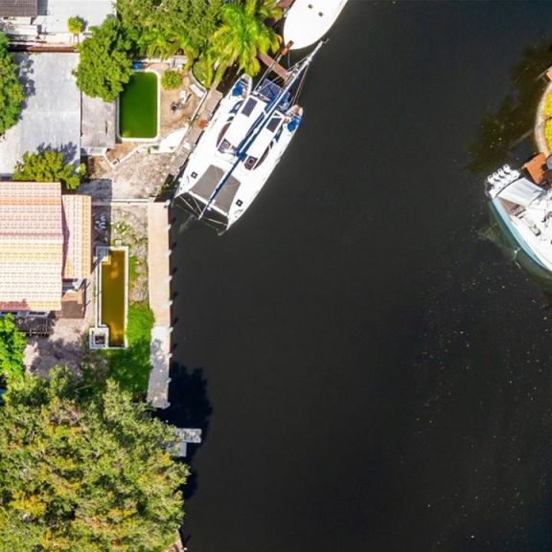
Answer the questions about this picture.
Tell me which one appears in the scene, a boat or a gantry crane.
boat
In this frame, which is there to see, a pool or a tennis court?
pool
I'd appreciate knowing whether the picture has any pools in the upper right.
No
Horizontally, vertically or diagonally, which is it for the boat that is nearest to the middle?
diagonally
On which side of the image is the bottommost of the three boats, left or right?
right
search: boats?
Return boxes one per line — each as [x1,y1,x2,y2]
[489,159,552,267]
[281,0,344,55]
[174,61,323,230]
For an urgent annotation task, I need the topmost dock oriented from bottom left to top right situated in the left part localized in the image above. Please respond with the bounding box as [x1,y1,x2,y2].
[154,87,220,181]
